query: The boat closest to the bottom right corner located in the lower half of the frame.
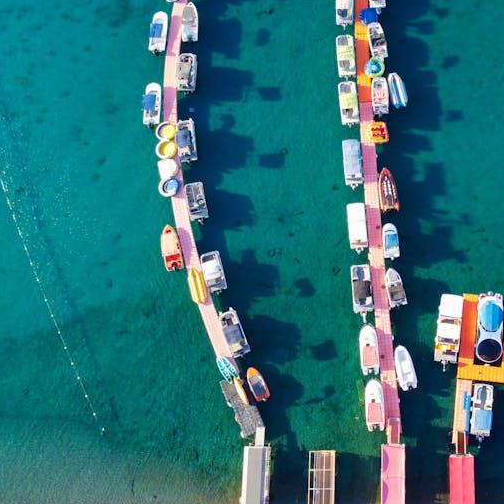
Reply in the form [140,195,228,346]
[469,385,493,446]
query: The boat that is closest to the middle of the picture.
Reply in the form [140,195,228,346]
[198,252,227,301]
